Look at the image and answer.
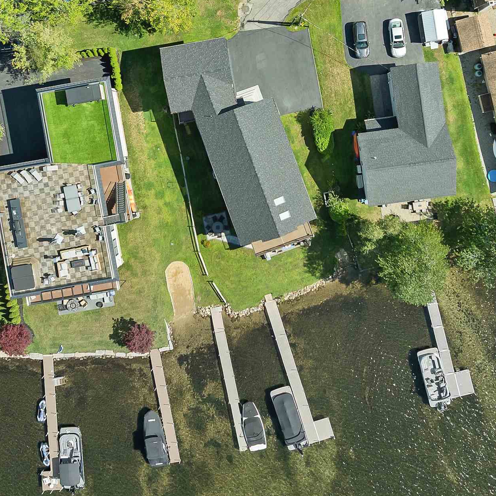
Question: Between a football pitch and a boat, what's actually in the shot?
boat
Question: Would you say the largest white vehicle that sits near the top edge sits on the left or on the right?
right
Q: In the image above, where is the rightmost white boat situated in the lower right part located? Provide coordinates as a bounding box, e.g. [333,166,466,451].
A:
[418,349,452,409]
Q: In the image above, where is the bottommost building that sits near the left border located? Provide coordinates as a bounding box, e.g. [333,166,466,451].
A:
[0,75,136,309]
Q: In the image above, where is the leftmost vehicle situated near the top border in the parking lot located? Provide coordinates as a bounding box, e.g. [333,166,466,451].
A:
[352,21,371,60]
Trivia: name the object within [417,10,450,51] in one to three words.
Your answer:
vehicle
